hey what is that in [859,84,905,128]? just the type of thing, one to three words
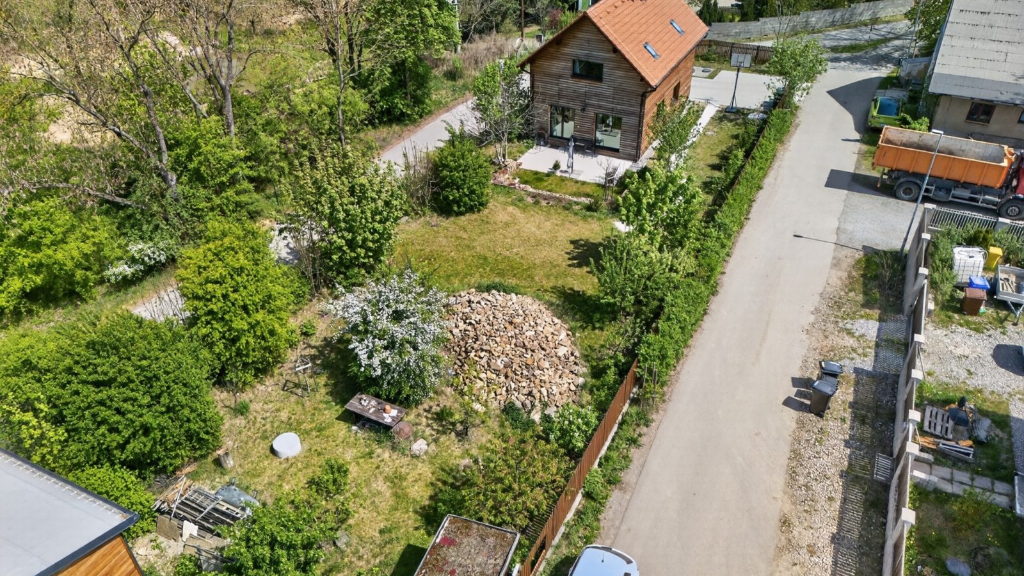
car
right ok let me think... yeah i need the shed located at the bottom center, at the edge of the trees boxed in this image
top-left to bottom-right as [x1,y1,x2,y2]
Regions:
[425,515,519,576]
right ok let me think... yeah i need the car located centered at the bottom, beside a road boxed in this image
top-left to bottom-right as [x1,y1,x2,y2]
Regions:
[567,539,642,576]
